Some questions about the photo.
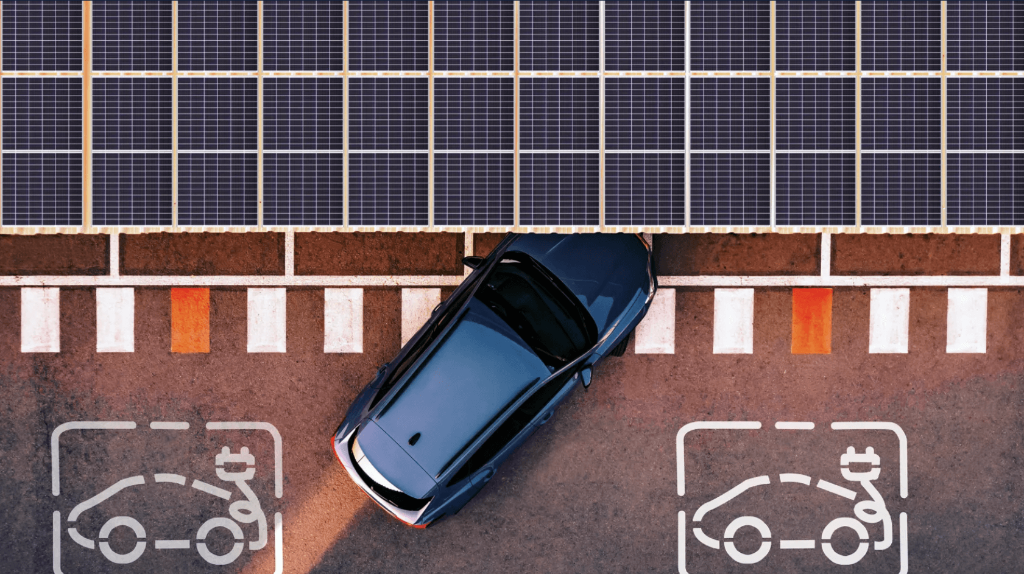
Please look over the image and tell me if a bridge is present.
No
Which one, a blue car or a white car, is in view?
blue car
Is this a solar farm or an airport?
solar farm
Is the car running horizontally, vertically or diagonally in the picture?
diagonally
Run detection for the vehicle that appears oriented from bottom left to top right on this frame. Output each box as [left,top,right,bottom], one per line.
[334,232,660,525]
